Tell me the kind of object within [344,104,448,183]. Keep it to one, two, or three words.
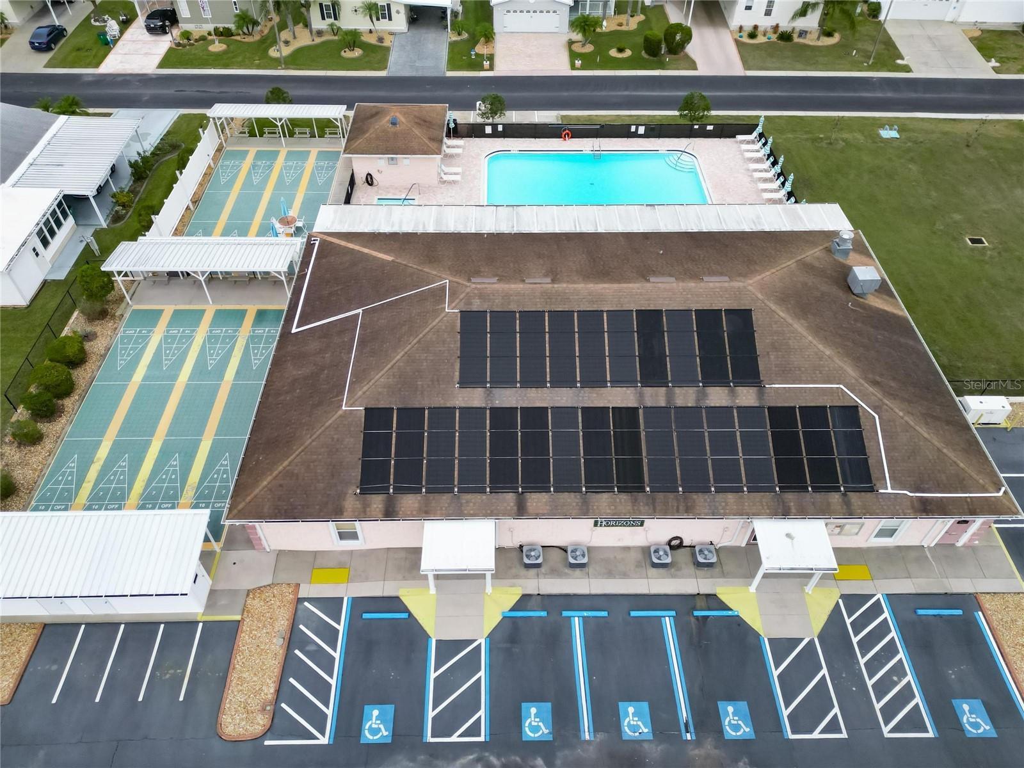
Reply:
building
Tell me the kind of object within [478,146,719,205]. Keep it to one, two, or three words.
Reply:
swimming pool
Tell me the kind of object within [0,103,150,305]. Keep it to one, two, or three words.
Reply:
house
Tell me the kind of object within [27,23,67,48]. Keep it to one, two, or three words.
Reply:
car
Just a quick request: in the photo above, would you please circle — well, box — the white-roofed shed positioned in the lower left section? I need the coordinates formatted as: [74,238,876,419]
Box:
[0,508,223,624]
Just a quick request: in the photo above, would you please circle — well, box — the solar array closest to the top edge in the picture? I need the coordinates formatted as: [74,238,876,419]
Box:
[455,309,764,387]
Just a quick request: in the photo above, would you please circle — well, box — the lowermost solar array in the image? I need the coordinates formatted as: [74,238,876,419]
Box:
[356,405,877,494]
